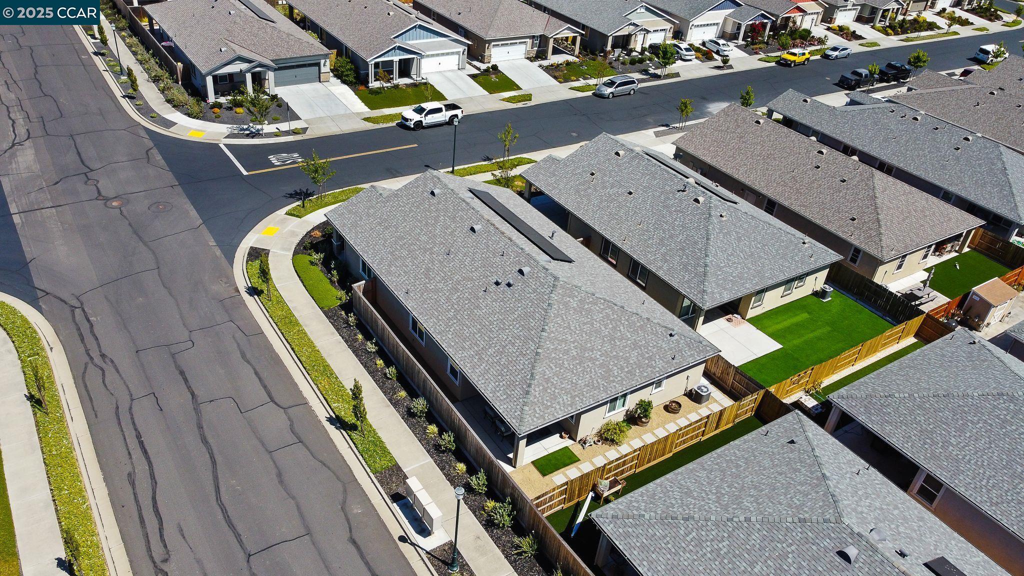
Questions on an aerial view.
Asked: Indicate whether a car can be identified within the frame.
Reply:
Yes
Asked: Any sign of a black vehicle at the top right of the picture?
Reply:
Yes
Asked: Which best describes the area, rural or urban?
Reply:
urban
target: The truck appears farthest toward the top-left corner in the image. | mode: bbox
[399,101,462,131]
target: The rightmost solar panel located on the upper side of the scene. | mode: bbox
[645,148,743,204]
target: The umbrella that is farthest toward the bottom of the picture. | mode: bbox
[571,483,593,537]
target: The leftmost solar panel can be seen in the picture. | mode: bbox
[233,0,288,26]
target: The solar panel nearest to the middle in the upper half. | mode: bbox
[475,185,584,265]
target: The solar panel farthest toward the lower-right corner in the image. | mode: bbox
[924,555,967,576]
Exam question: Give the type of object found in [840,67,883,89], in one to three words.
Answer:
truck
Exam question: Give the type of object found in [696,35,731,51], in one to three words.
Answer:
car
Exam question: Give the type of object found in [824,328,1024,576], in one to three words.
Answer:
house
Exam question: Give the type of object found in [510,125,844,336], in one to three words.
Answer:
house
